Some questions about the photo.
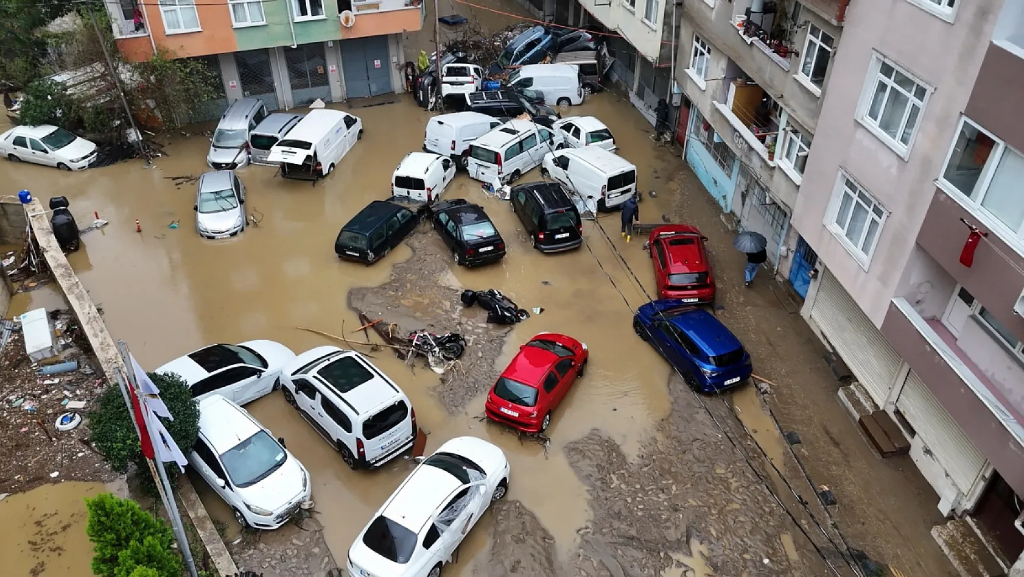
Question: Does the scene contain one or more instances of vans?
Yes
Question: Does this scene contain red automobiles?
Yes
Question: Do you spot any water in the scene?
Yes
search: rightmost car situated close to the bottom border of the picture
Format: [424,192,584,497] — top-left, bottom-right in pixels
[345,436,511,577]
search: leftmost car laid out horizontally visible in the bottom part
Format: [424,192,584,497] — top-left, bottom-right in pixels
[132,330,294,401]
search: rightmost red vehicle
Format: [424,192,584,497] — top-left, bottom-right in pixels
[644,226,715,306]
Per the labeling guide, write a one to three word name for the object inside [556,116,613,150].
car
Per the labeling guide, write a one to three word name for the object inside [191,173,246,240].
car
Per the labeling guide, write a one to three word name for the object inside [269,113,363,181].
van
